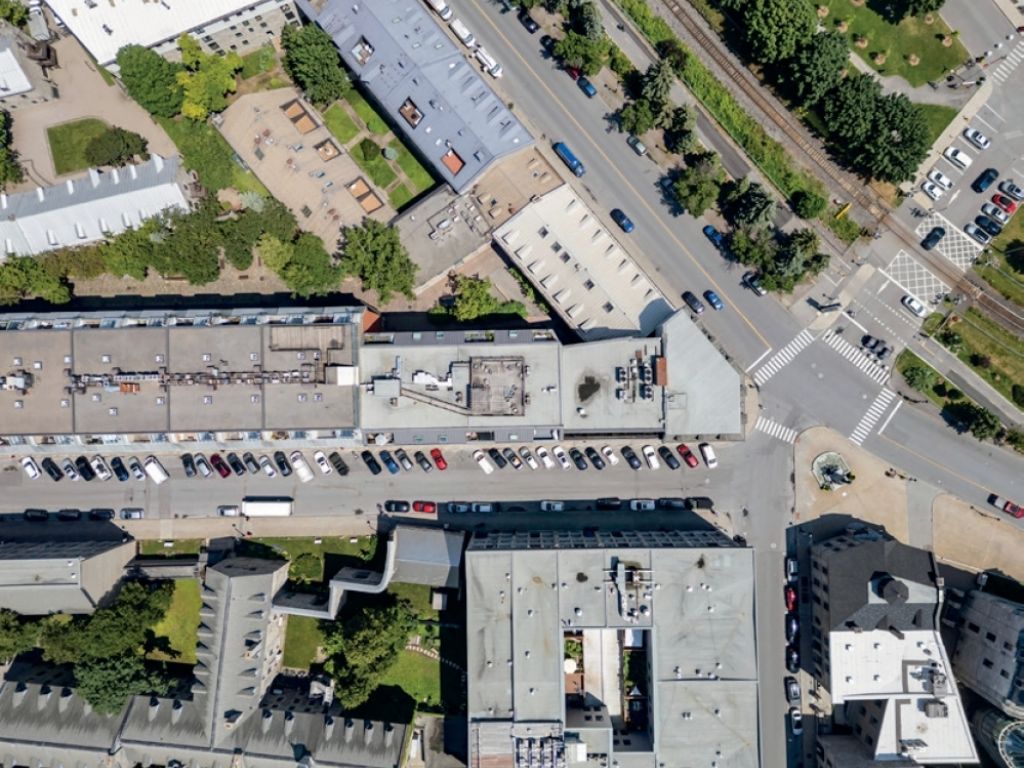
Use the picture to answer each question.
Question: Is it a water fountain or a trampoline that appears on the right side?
water fountain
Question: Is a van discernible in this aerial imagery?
Yes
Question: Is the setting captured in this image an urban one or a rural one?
urban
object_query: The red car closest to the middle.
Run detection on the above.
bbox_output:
[430,446,448,471]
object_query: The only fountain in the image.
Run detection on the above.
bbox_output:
[813,451,853,492]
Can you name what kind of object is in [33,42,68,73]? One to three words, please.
building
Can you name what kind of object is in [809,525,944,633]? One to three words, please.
house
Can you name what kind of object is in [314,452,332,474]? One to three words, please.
car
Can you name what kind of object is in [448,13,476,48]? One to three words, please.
van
